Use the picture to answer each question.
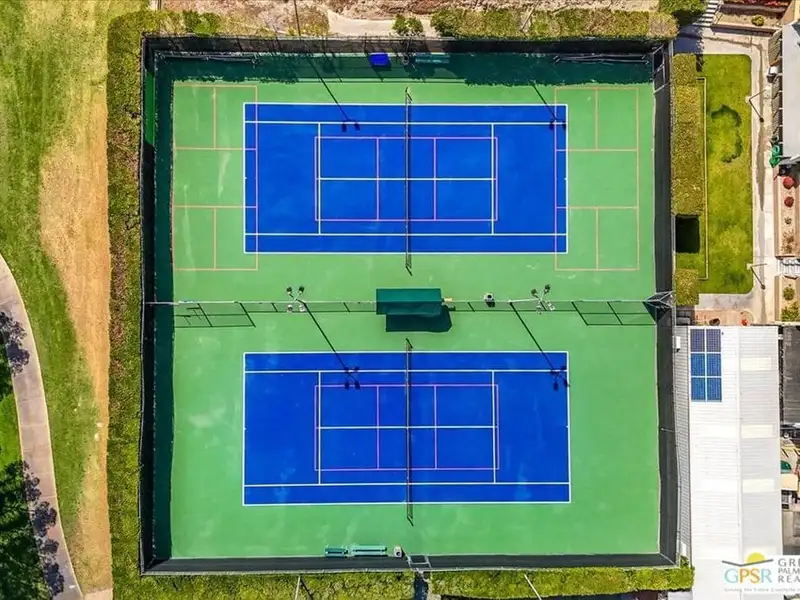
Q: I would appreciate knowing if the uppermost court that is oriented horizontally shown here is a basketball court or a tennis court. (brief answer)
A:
tennis court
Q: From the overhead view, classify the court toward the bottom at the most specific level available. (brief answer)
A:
tennis court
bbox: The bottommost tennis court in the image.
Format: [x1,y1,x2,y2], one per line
[243,352,570,505]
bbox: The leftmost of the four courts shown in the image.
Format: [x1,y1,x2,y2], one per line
[171,84,258,270]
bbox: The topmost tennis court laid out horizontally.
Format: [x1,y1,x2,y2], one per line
[244,103,568,253]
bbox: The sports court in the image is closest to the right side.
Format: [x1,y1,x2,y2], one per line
[555,87,639,270]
